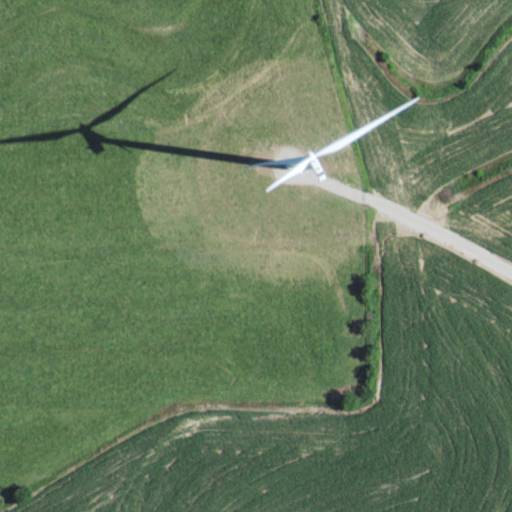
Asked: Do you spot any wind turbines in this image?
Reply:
Yes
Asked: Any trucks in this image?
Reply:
No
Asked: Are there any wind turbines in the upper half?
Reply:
Yes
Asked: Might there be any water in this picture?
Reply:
No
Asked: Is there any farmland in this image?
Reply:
Yes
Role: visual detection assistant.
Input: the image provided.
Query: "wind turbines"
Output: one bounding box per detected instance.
[247,97,417,189]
